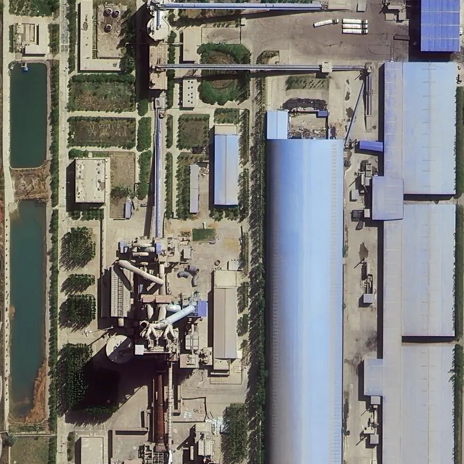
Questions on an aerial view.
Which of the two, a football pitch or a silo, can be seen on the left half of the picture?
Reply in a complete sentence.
Looking on the left half of the picture, you will find a silo.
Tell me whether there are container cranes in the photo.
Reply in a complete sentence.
No, no container crane is visible in the scene.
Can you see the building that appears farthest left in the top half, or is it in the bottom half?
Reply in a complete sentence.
The building that appears farthest left sits in the top half of the picture.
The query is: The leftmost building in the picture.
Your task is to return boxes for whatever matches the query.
[14,23,45,53]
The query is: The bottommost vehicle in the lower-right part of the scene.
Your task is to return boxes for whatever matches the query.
[364,405,378,438]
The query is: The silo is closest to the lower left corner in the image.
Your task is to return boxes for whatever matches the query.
[105,335,134,363]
